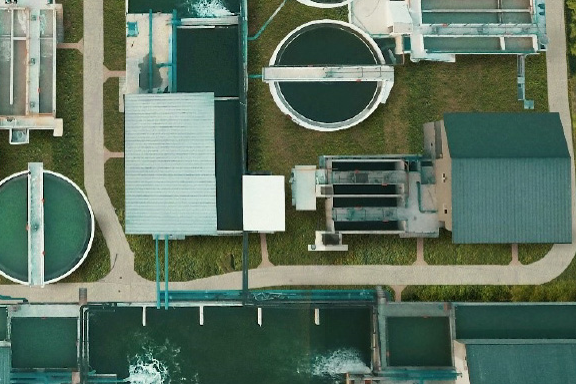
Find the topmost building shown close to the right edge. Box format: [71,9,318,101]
[418,113,576,243]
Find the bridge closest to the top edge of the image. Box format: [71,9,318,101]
[260,66,395,83]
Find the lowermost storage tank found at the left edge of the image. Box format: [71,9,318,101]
[0,163,94,287]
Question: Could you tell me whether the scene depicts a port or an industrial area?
industrial area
